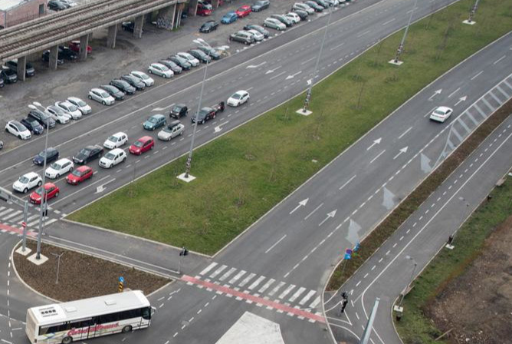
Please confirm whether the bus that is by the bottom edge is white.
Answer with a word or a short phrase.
Yes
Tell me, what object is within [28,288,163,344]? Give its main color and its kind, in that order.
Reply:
white bus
